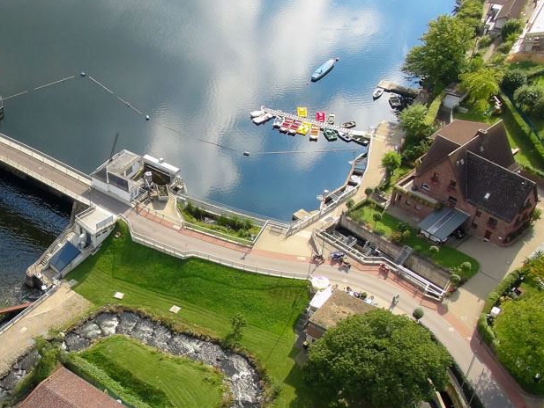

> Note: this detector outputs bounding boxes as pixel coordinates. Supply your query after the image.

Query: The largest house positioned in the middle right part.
[390,120,542,245]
